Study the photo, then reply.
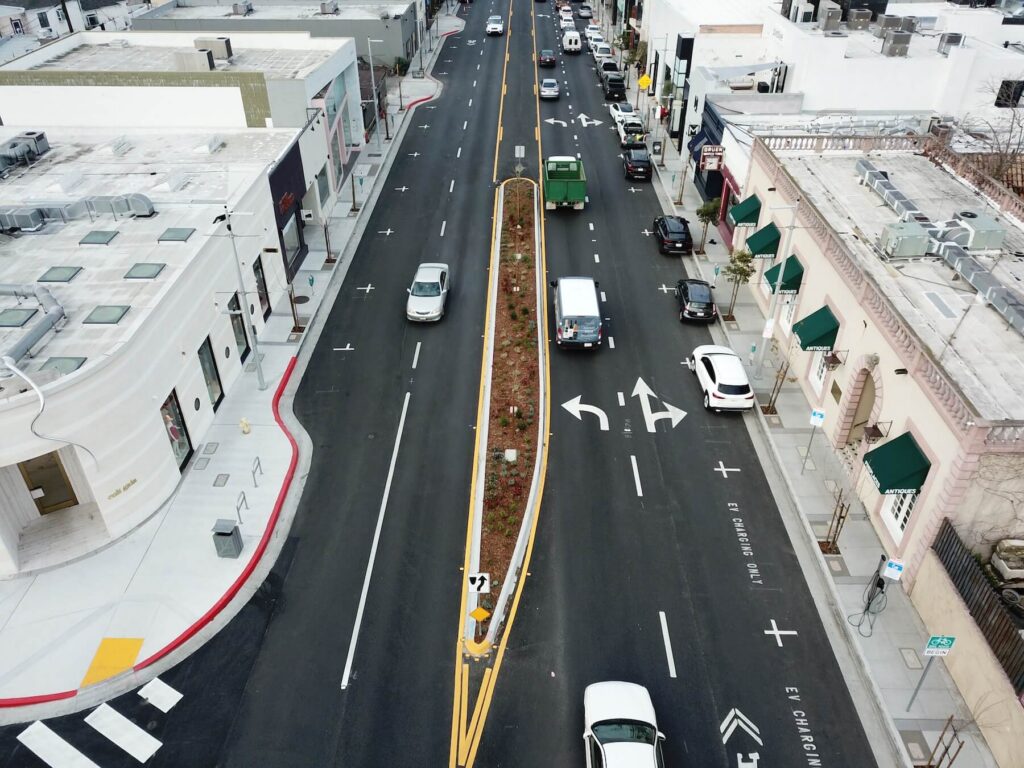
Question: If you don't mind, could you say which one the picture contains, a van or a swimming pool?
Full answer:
The image shows a van.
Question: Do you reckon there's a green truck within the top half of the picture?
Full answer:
Yes, a green truck appears within the top half of the picture.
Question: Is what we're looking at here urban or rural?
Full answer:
The land in this view is best described as urban.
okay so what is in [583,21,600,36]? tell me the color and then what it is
white car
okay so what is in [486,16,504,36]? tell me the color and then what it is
white car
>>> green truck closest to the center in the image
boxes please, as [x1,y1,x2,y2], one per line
[540,152,587,212]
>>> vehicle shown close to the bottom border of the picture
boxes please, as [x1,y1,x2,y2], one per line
[578,681,673,768]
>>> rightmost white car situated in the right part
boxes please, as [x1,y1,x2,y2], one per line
[687,335,757,409]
